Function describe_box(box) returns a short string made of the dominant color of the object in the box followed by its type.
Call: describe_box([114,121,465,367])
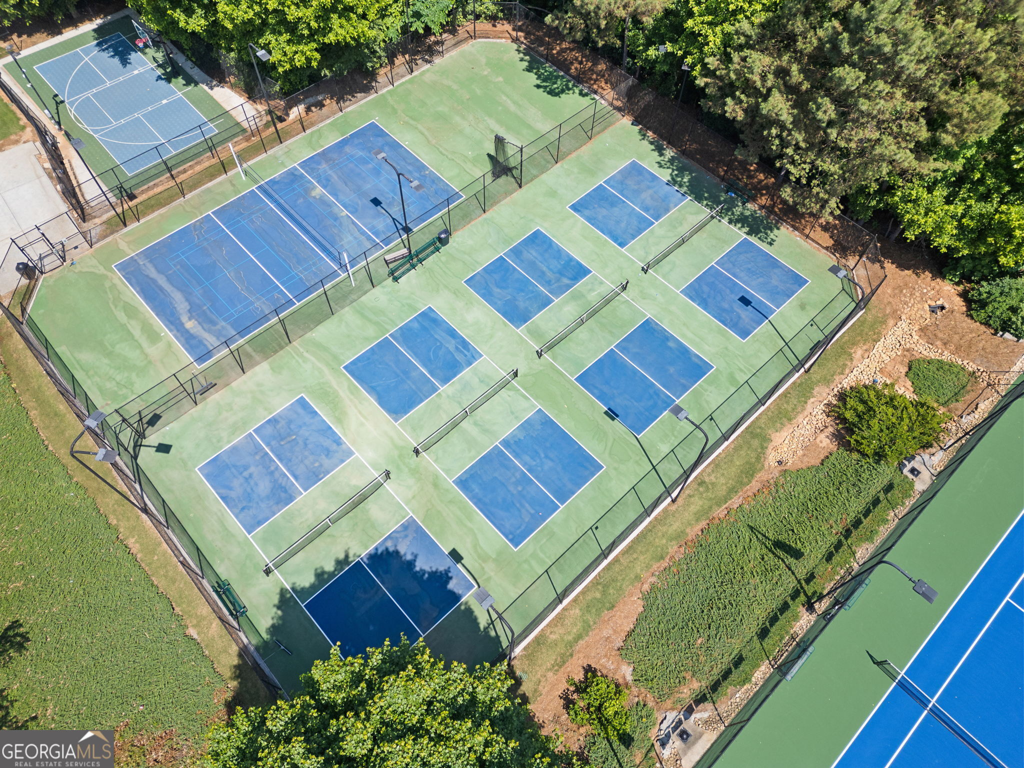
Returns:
blue sports court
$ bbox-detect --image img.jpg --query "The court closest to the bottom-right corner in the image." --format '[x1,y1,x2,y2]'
[695,396,1024,768]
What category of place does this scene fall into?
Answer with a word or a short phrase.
sports ground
